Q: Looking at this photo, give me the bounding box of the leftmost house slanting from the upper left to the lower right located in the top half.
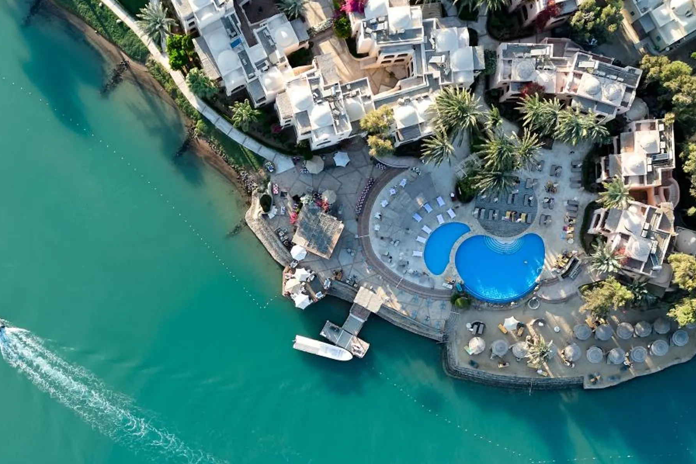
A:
[173,0,266,108]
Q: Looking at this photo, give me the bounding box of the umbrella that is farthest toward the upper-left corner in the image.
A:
[306,155,324,174]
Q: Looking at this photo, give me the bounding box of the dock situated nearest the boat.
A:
[320,287,382,358]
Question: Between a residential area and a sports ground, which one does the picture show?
residential area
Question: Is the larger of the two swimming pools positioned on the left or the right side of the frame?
right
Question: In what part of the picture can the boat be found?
bottom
